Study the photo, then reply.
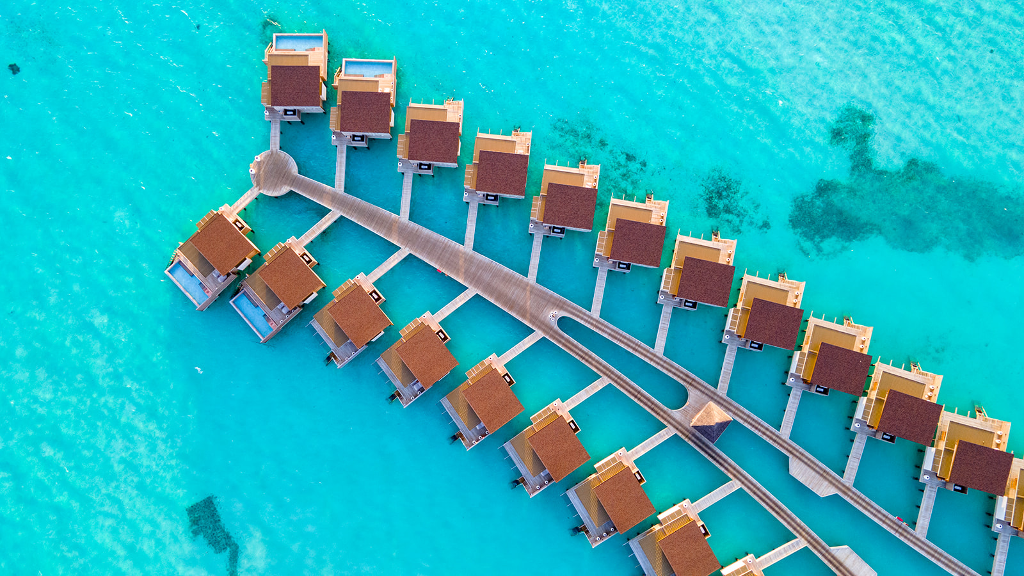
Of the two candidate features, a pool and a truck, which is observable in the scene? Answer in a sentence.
Visible in the photo is a pool.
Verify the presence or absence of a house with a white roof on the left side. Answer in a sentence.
No, no house with a white roof can be made out on the left side.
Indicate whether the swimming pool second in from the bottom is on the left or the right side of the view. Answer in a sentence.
The swimming pool second in from the bottom appears in the left half of the scene.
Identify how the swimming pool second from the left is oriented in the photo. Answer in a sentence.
What the image shows is the swimming pool second from the left lying diagonally.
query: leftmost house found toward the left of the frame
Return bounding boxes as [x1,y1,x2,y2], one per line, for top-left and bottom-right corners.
[174,203,266,313]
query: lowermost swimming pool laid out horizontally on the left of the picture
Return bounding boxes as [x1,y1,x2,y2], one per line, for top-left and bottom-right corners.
[343,57,397,76]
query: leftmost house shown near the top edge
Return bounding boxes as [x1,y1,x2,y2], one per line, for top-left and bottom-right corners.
[261,27,333,125]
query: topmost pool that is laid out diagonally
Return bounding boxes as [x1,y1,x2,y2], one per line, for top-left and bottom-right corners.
[166,259,220,308]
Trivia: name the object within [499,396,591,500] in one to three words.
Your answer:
house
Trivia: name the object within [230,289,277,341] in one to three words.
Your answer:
swimming pool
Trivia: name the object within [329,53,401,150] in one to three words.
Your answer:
house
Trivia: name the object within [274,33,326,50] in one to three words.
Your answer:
swimming pool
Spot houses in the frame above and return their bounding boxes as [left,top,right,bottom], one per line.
[561,444,656,550]
[463,128,536,209]
[307,271,396,371]
[174,203,266,313]
[396,97,468,178]
[844,356,945,446]
[720,550,768,576]
[329,53,401,150]
[238,235,331,345]
[655,229,741,312]
[372,309,461,411]
[623,495,721,576]
[436,351,525,454]
[499,396,591,500]
[591,192,672,275]
[781,311,876,397]
[261,27,333,125]
[718,268,809,353]
[527,159,604,240]
[911,404,1014,496]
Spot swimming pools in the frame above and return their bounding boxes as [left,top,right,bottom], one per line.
[343,57,397,76]
[230,289,277,341]
[274,33,326,50]
[166,259,220,308]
